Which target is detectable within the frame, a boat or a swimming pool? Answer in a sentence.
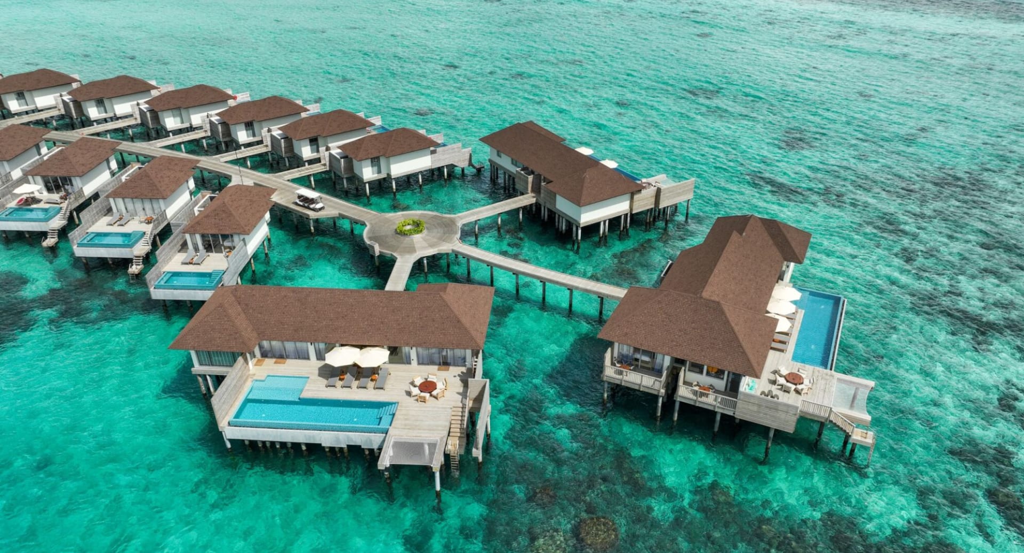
There is a swimming pool in the scene.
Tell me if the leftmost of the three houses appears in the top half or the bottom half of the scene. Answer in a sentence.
The leftmost of the three houses is in the bottom half of the image.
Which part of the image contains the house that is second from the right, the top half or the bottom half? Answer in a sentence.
It is in the top half that the house that is second from the right appears.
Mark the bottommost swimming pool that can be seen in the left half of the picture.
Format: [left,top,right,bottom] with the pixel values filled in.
[228,376,398,436]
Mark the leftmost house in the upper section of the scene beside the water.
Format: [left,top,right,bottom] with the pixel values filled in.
[481,122,695,250]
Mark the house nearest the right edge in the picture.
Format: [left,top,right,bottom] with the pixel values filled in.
[597,217,875,470]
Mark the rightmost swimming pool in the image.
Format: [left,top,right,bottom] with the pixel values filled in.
[789,286,841,370]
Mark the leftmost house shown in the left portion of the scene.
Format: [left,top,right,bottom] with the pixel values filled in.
[168,284,495,504]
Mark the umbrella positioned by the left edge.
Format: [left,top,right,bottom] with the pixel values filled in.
[16,182,43,204]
